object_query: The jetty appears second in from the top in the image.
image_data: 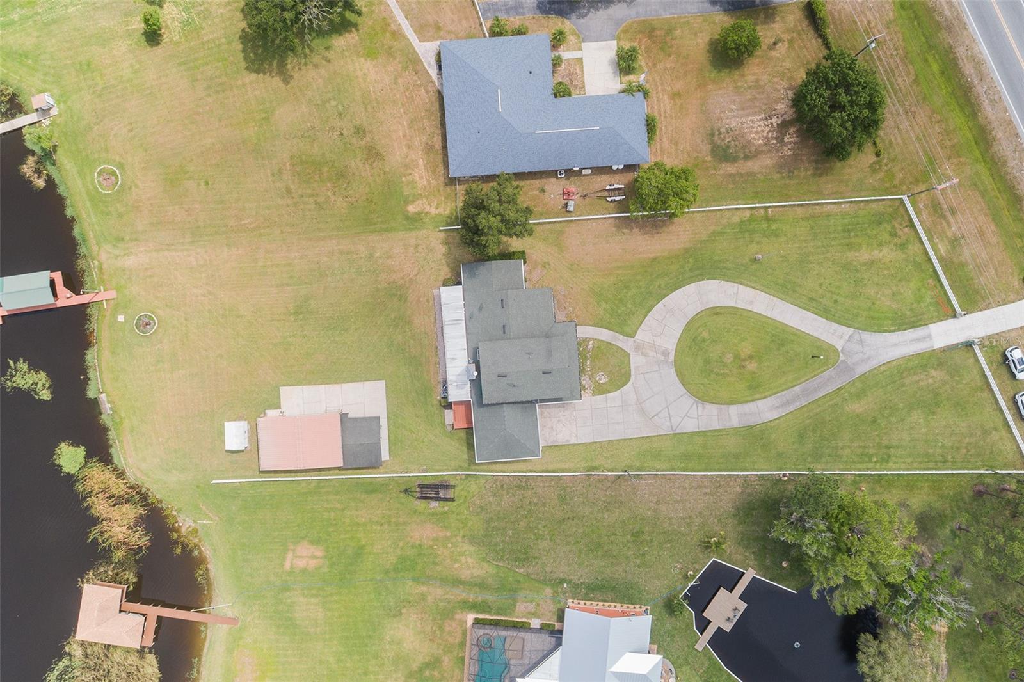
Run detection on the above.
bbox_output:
[0,271,117,325]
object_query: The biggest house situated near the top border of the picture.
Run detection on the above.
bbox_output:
[439,33,650,178]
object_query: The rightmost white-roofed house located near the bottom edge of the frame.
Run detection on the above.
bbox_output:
[515,607,662,682]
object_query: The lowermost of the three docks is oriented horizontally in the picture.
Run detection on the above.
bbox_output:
[100,582,238,647]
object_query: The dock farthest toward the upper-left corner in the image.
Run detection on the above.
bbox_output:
[0,110,58,136]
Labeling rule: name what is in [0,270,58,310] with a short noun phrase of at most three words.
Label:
building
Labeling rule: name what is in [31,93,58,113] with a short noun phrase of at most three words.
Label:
shed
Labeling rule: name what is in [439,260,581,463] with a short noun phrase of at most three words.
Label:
building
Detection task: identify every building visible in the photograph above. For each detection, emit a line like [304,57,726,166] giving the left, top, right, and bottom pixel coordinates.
[439,260,581,463]
[439,33,650,178]
[31,93,58,113]
[257,413,383,472]
[515,607,662,682]
[76,583,148,649]
[225,420,253,451]
[0,270,58,310]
